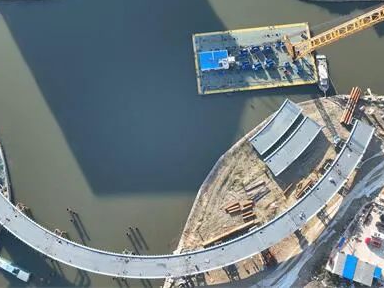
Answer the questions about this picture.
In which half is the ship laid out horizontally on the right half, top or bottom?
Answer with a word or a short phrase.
top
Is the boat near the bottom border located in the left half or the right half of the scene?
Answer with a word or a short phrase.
left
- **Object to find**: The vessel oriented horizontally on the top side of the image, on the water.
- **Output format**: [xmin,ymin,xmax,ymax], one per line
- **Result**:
[191,5,384,95]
